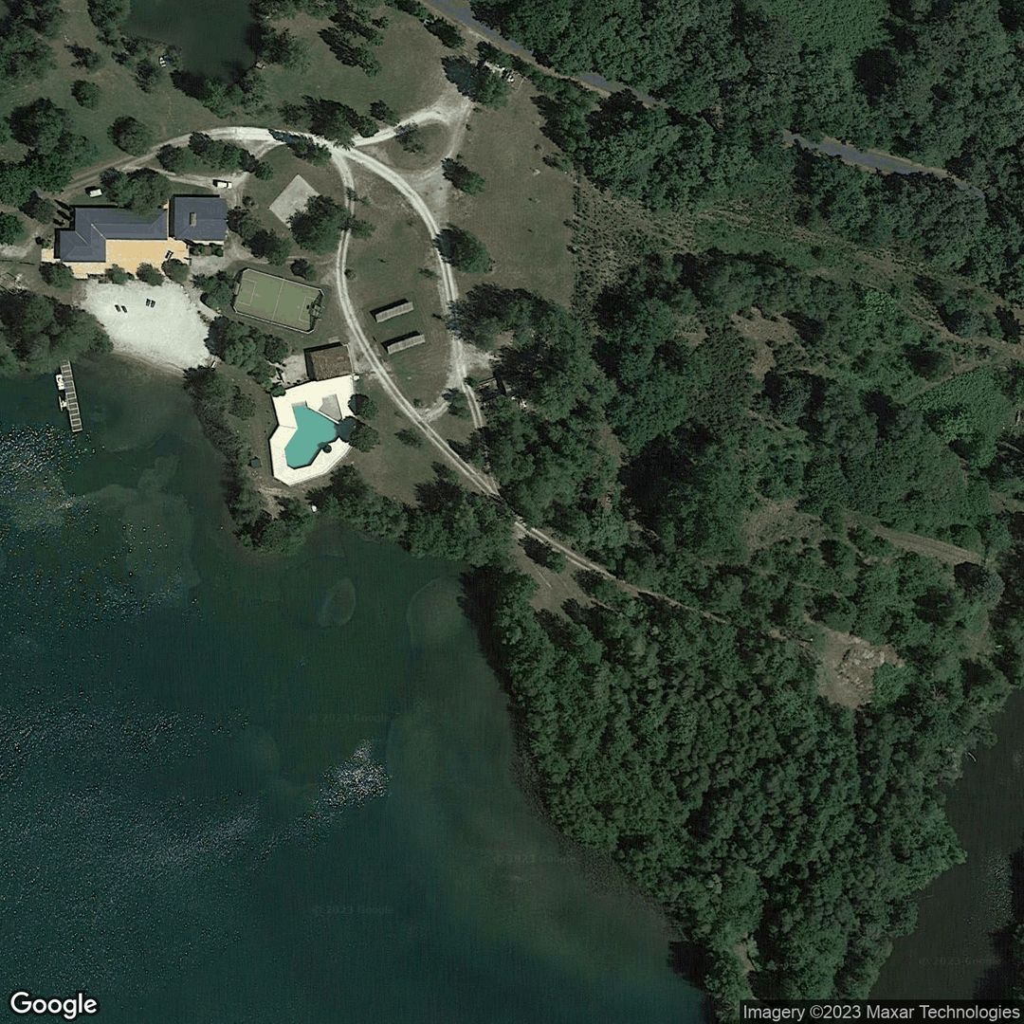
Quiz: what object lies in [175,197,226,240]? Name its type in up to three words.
house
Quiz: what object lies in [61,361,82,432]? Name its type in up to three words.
pier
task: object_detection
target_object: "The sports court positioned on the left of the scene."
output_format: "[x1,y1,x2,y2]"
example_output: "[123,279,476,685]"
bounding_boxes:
[233,268,324,333]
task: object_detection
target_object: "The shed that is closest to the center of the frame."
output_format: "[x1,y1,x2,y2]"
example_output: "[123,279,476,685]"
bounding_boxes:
[476,374,501,396]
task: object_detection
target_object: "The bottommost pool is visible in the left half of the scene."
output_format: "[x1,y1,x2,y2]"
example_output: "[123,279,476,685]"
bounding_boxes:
[270,375,357,489]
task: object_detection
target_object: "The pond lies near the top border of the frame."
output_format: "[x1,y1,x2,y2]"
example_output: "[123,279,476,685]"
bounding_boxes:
[124,0,254,91]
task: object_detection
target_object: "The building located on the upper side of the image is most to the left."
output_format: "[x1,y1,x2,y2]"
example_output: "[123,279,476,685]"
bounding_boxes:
[60,208,167,262]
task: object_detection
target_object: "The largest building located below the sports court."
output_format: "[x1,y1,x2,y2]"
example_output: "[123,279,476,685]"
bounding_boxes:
[310,345,353,381]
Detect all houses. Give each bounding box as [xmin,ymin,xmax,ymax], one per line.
[175,197,226,240]
[60,208,167,262]
[310,345,353,381]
